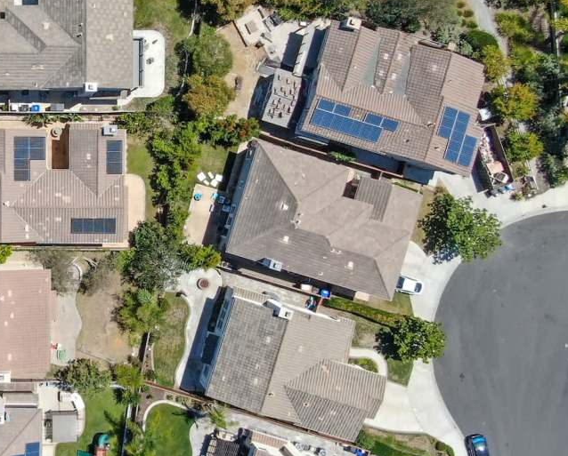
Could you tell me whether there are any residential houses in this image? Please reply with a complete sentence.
Yes, there's a residential house here.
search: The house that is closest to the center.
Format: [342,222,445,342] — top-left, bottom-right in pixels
[221,140,424,301]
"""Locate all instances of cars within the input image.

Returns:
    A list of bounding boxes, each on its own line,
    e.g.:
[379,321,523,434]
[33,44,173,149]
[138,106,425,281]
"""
[464,433,487,456]
[394,275,427,296]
